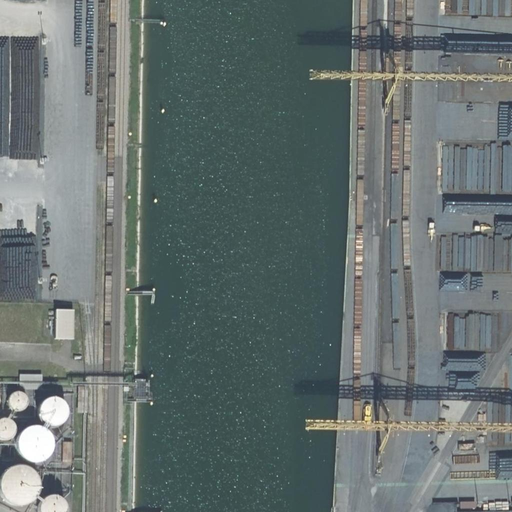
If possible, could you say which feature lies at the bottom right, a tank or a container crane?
container crane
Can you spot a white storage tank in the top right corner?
No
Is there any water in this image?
Yes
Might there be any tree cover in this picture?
No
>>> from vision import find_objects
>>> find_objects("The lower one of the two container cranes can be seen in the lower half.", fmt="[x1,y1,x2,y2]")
[304,385,512,476]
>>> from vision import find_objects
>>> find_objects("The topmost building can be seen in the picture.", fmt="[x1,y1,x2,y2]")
[54,309,75,339]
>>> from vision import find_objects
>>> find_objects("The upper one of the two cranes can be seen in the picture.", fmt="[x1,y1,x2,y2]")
[309,37,512,118]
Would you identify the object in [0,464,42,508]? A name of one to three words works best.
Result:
storage tank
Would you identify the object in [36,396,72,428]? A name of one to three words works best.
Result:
storage tank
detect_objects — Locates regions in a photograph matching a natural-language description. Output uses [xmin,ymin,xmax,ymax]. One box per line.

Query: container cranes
[304,385,512,476]
[309,37,512,118]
